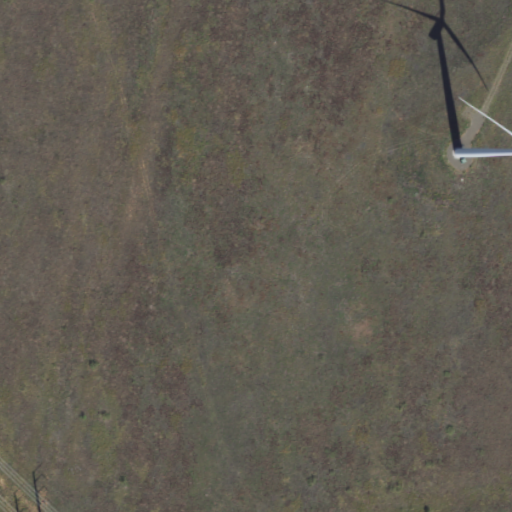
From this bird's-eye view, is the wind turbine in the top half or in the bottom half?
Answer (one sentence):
The wind turbine is in the top half of the image.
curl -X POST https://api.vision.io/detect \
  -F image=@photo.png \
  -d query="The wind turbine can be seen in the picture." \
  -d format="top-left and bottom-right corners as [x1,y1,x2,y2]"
[454,102,512,159]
